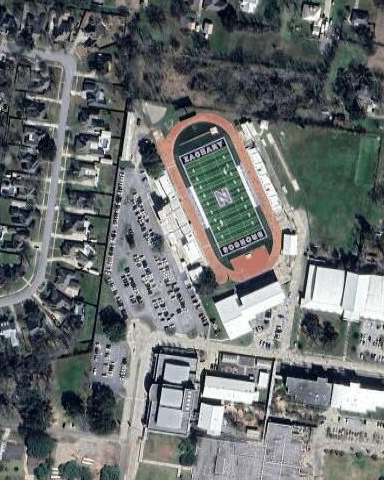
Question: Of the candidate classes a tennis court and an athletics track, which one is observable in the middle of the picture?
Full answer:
There is an athletics track in the middle of the picture.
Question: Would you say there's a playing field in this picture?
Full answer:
Yes, a playing field can be made out from above.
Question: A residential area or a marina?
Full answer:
The picture captures a residential area.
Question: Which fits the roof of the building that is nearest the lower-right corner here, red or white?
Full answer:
From above, the roof of the building that is nearest the lower-right corner appears white.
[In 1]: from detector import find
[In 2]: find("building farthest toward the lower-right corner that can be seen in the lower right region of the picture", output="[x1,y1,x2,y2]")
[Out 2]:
[331,383,384,414]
